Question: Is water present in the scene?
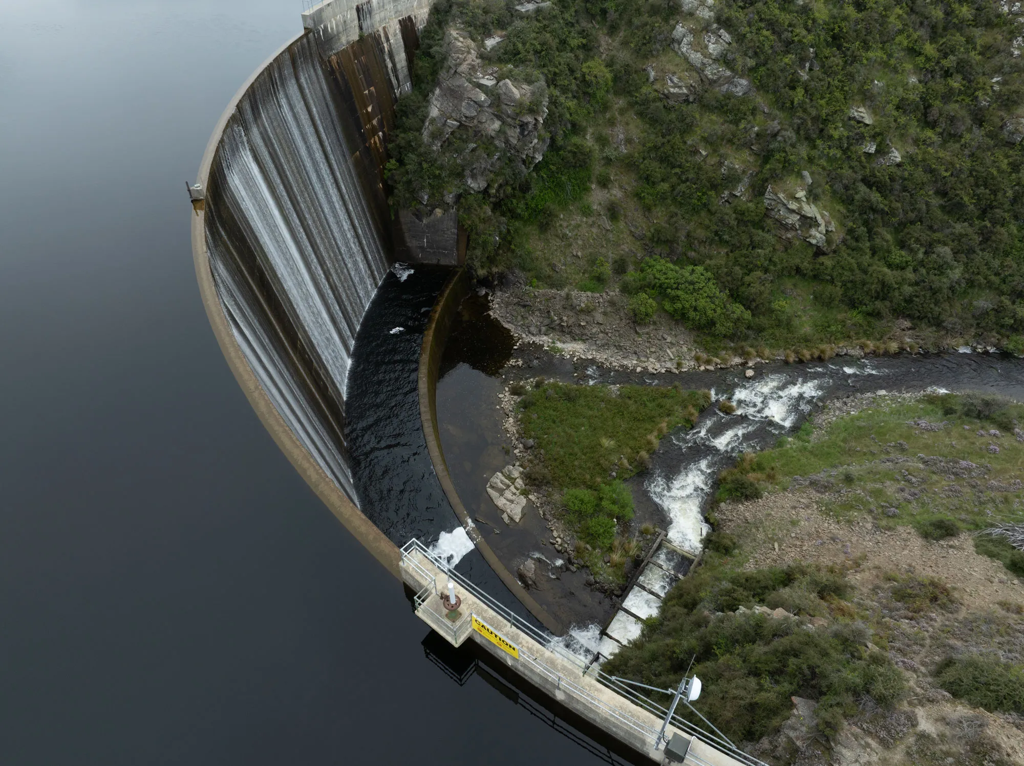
Yes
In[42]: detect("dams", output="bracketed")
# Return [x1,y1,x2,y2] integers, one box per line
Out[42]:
[192,0,758,766]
